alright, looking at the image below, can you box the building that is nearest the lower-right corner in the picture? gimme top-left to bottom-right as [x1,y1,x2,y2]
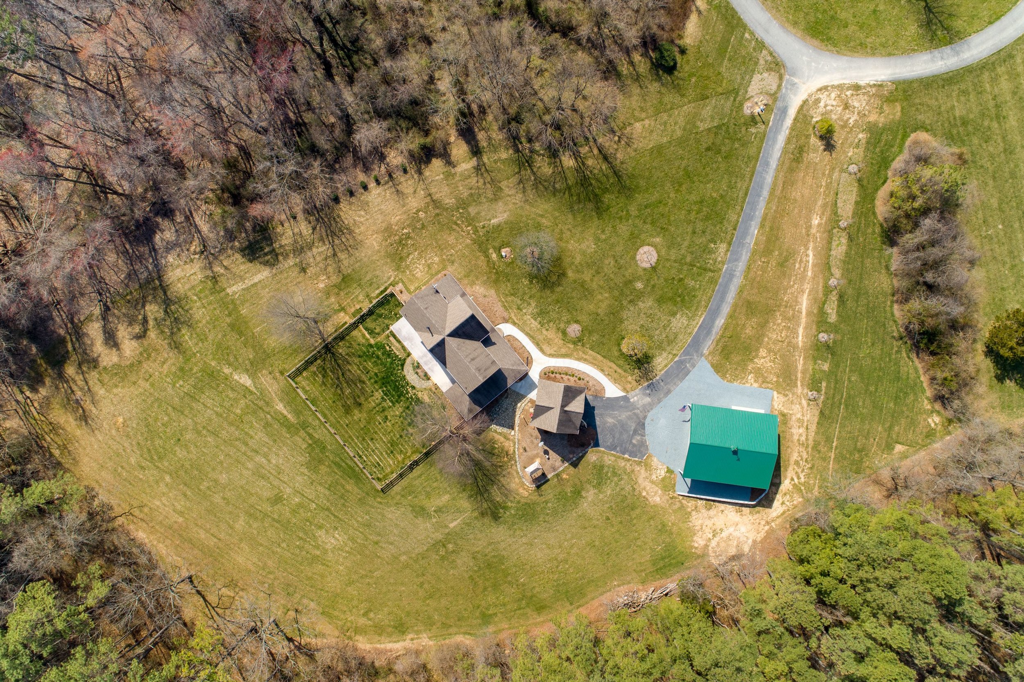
[678,403,779,489]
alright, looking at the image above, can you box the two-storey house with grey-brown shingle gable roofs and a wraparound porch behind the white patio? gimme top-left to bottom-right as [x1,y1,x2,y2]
[399,273,530,420]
